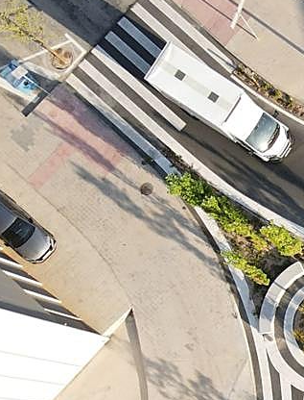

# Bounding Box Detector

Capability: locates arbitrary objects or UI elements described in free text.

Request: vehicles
[0,190,57,261]
[146,47,295,171]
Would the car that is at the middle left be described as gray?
Yes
